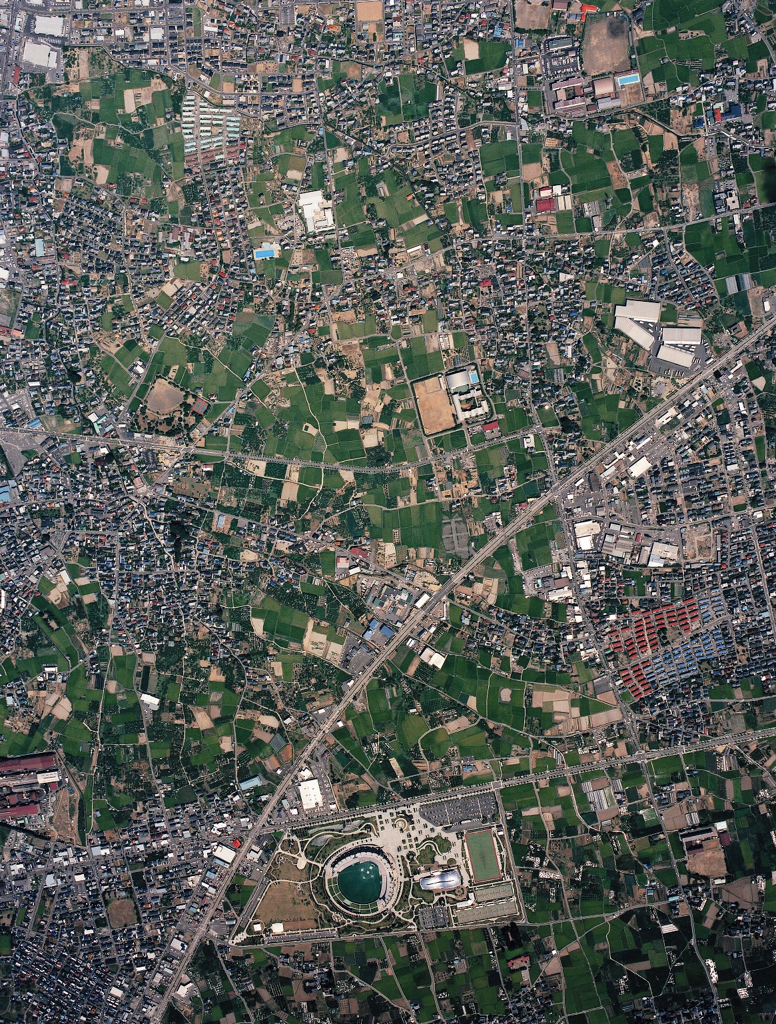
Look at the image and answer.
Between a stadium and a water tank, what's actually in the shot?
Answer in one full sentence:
I can see a stadium in this picture.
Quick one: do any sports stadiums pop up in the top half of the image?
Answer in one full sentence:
No, in the top half of the image there is no sports stadium.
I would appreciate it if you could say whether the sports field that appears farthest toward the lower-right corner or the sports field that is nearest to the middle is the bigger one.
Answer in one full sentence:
The sports field that is nearest to the middle is bigger than the sports field that appears farthest toward the lower-right corner.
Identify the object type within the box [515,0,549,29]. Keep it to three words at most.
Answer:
sports field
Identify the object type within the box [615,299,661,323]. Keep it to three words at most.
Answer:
building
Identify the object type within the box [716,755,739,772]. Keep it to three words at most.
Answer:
greenhouse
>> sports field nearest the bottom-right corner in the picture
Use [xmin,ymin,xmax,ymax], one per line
[686,849,727,877]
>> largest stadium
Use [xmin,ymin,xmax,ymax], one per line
[326,852,393,917]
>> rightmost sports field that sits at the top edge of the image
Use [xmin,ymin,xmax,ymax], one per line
[583,13,631,73]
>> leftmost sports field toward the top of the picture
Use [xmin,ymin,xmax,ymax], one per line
[147,378,185,413]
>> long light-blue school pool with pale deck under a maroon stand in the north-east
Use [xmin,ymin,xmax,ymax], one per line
[616,71,640,89]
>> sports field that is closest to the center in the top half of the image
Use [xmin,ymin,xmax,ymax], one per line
[413,377,455,434]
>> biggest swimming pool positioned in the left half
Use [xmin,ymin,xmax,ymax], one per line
[254,243,281,260]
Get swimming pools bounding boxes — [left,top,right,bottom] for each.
[469,370,479,384]
[254,243,281,260]
[616,71,640,89]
